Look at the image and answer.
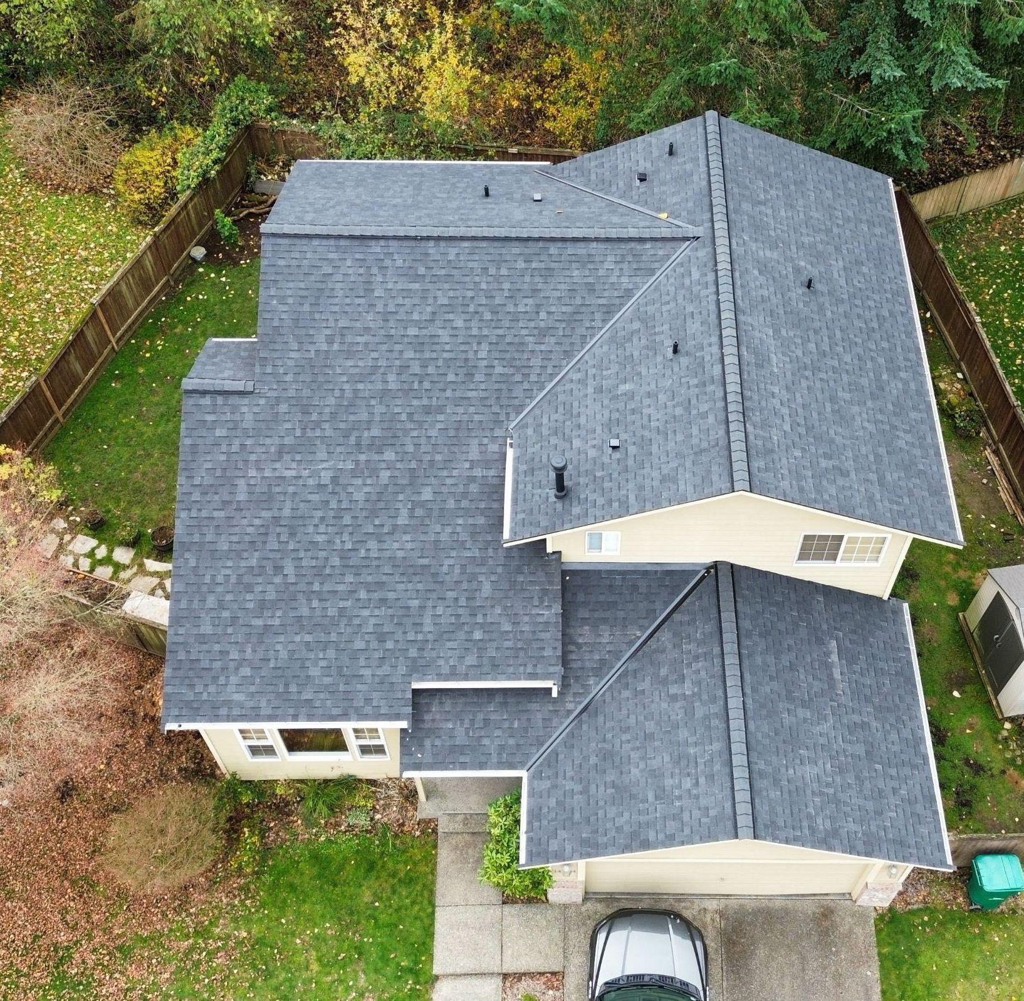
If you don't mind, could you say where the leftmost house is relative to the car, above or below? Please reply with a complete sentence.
The leftmost house is found above the car in the photo.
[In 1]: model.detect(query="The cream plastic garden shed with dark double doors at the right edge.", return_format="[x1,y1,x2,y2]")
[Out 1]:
[953,560,1024,724]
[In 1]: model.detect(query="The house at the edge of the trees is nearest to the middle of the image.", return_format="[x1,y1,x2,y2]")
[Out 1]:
[164,111,965,911]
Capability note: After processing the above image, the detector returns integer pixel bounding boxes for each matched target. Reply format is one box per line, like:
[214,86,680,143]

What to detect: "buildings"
[164,111,965,911]
[953,560,1024,724]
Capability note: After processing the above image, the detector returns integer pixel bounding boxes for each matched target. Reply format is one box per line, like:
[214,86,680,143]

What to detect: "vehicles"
[589,904,708,1001]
